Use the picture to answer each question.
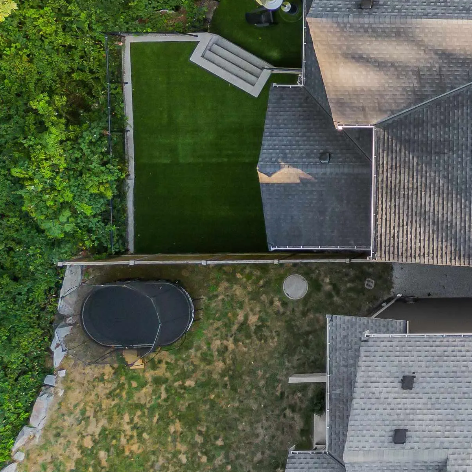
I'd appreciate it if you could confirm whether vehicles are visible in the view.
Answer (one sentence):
No, there's no vehicle here.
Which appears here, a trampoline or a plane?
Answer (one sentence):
The one in the frame is a trampoline.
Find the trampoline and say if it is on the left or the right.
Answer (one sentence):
The trampoline sits on the left side.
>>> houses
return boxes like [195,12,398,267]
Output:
[256,0,472,266]
[284,281,472,472]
